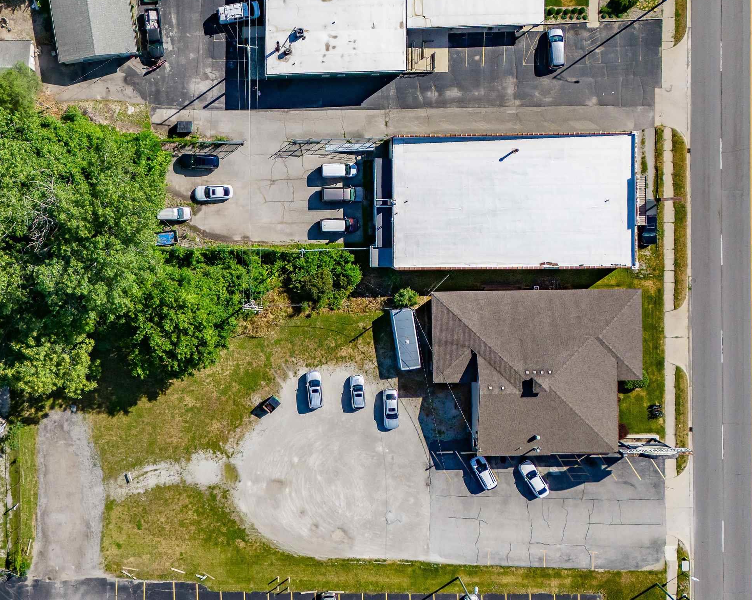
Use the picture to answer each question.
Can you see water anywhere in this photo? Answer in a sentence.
No, there's no water in this view.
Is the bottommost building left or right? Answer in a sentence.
You can find the bottommost building on the right side of the picture.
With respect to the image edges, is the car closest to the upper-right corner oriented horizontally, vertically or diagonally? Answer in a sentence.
The car closest to the upper-right corner has been laid out vertically relative to the frame.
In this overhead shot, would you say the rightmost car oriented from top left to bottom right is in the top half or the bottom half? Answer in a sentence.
The bottom half of the photo is where the rightmost car oriented from top left to bottom right is.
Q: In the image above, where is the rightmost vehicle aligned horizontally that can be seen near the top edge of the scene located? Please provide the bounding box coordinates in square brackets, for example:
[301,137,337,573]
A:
[216,0,262,25]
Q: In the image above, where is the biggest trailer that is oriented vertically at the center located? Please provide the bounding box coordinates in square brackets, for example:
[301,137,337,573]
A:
[387,308,421,373]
